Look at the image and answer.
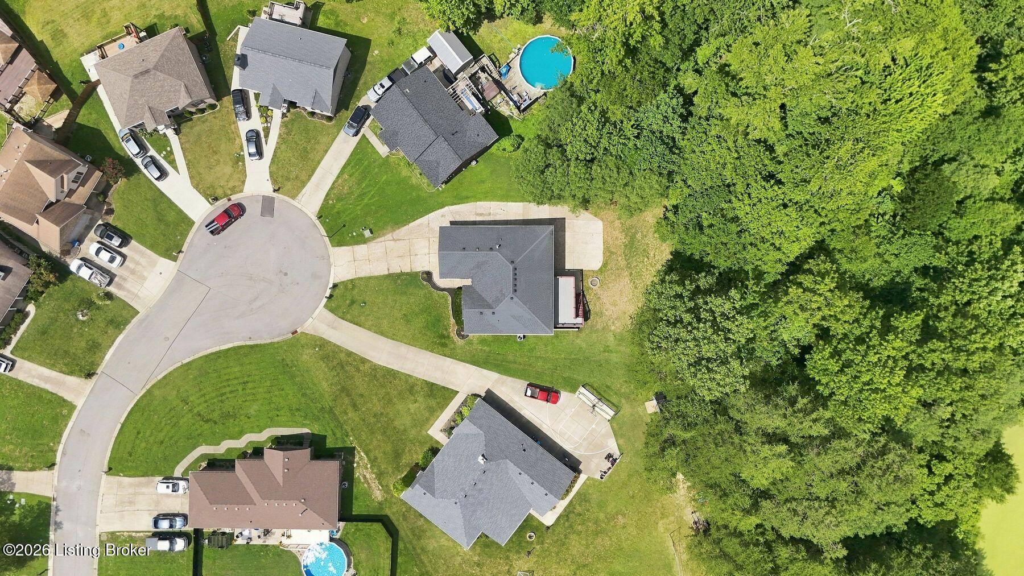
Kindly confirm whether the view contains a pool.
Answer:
Yes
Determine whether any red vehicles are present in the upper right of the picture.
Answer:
No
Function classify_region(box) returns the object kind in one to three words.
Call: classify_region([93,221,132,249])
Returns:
car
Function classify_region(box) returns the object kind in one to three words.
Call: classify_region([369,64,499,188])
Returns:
house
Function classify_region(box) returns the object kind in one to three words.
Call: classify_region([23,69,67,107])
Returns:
gazebo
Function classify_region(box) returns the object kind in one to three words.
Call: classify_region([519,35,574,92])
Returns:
swimming pool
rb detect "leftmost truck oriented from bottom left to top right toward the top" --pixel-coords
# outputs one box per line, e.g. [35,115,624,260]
[203,204,246,236]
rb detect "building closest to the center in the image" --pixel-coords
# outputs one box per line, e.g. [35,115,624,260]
[438,226,555,335]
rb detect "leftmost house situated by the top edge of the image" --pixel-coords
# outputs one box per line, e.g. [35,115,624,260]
[93,26,216,133]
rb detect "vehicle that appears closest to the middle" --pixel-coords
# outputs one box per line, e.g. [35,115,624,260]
[524,385,561,405]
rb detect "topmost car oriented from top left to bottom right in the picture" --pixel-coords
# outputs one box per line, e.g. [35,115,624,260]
[116,128,151,161]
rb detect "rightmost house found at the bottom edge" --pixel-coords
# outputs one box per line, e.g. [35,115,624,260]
[400,397,576,549]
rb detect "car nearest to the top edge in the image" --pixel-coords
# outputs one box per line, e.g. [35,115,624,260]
[401,42,436,74]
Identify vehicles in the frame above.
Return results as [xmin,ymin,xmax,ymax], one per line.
[0,353,16,373]
[154,478,188,497]
[116,128,151,161]
[93,221,132,249]
[203,204,246,236]
[145,535,190,554]
[367,60,410,104]
[88,240,127,269]
[524,385,561,405]
[342,102,370,139]
[67,256,114,291]
[138,153,170,186]
[152,513,188,531]
[243,128,263,161]
[401,42,436,74]
[229,87,250,123]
